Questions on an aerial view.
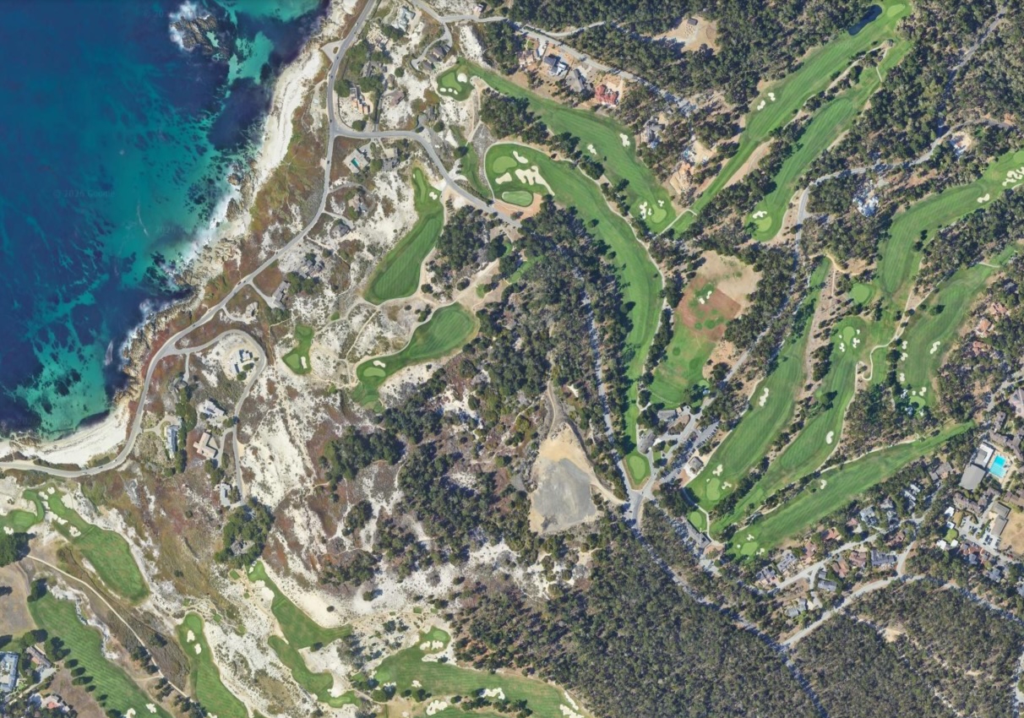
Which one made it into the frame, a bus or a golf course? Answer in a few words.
golf course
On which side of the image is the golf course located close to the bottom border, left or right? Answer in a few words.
left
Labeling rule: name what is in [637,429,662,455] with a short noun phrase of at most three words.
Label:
building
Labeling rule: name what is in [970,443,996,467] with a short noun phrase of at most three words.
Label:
building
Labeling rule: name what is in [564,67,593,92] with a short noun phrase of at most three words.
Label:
house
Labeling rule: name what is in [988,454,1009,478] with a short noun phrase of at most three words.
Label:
swimming pool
